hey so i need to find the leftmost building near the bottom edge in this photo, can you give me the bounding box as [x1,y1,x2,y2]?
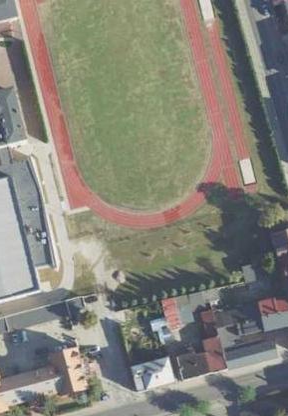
[0,346,88,415]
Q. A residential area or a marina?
residential area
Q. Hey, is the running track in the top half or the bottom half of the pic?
top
